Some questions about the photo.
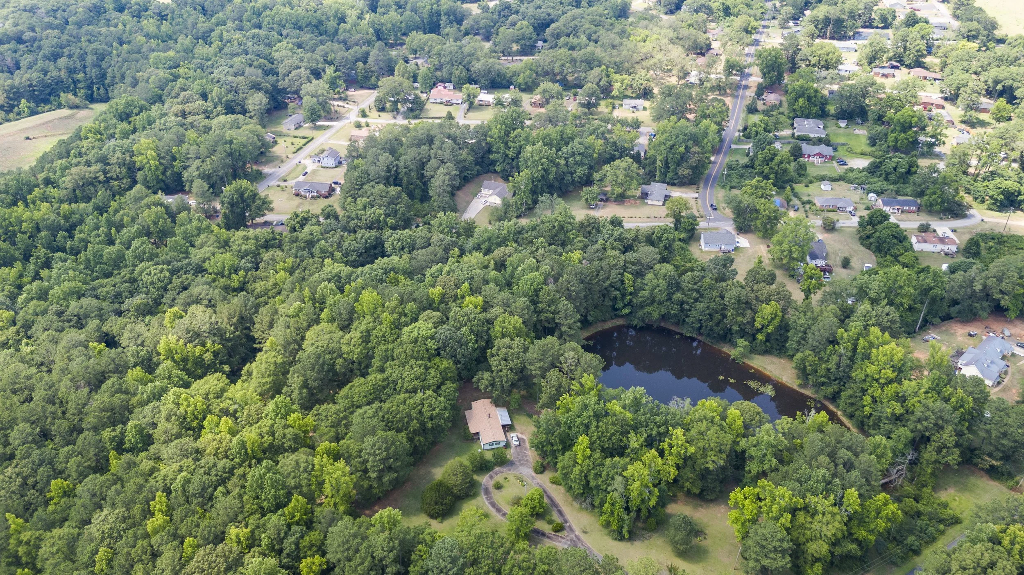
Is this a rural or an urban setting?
rural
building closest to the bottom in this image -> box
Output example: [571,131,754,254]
[463,398,512,450]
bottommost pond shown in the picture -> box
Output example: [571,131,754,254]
[577,323,855,439]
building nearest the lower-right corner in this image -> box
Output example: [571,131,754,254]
[950,343,1024,389]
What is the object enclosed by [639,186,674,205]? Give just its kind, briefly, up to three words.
house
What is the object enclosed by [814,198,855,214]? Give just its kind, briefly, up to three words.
house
